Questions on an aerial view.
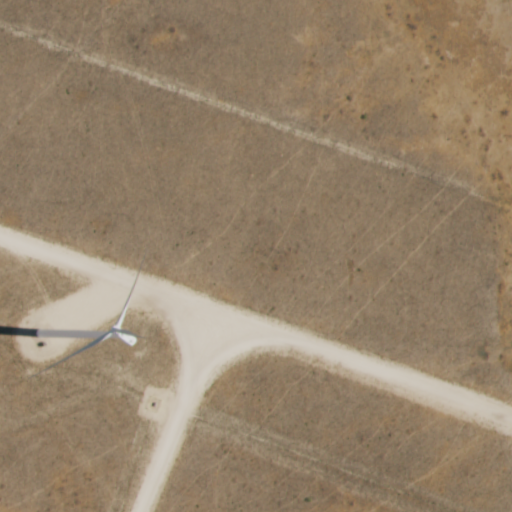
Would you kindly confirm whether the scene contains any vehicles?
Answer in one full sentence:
No, I find no vehicle anywhere in the image.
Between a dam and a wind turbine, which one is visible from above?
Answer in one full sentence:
The one in the frame is a wind turbine.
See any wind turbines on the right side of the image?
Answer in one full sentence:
No, there is no wind turbine on the right side of the image.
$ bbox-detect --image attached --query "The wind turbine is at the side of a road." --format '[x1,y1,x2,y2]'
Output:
[33,254,156,381]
